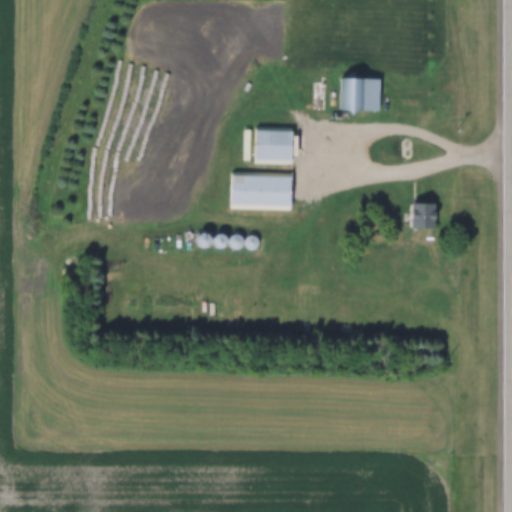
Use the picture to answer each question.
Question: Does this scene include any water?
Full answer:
No, there's no water in this view.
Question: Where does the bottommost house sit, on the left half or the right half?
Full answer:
The bottommost house sits on the right side.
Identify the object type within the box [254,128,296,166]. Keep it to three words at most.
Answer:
shed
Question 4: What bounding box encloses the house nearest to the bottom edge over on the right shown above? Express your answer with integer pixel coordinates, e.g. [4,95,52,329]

[404,202,438,232]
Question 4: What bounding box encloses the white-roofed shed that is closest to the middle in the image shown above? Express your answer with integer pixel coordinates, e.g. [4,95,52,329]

[232,172,294,212]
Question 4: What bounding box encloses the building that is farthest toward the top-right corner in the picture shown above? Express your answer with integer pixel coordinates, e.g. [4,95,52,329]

[340,76,382,116]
